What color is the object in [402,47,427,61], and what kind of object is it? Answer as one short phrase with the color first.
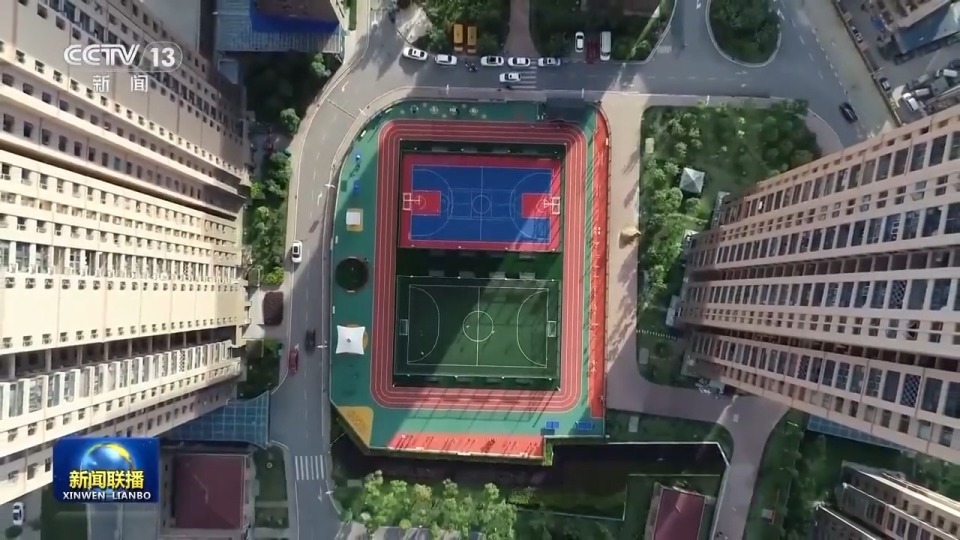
white car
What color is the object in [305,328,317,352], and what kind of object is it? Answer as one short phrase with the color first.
black vehicle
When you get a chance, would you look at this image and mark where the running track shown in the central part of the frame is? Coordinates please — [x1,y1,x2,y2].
[371,121,585,412]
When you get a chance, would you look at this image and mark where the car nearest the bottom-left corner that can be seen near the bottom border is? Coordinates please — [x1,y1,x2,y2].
[11,501,25,524]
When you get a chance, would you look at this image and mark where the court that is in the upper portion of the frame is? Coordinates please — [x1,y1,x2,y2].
[399,152,562,251]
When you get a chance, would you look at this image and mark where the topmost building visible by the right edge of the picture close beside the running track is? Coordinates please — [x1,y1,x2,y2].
[684,105,960,472]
